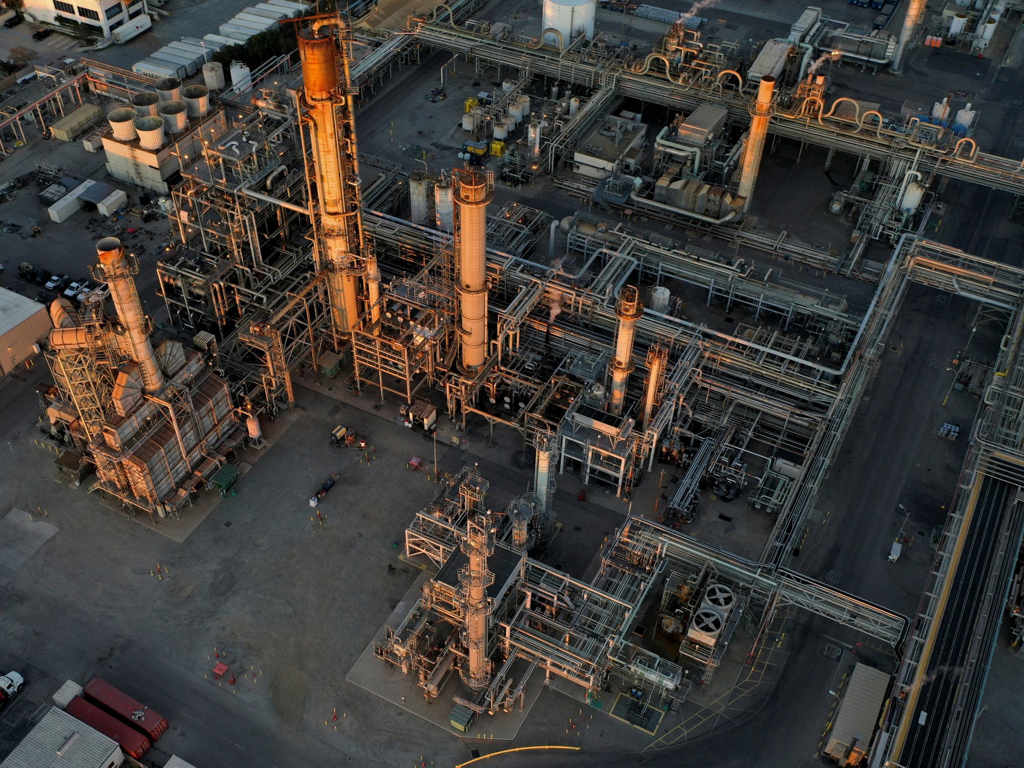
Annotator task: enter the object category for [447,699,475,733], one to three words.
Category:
shed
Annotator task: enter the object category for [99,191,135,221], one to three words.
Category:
shipping container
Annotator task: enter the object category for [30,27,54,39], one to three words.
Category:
vehicle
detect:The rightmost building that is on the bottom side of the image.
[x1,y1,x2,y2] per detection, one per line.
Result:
[818,659,890,768]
